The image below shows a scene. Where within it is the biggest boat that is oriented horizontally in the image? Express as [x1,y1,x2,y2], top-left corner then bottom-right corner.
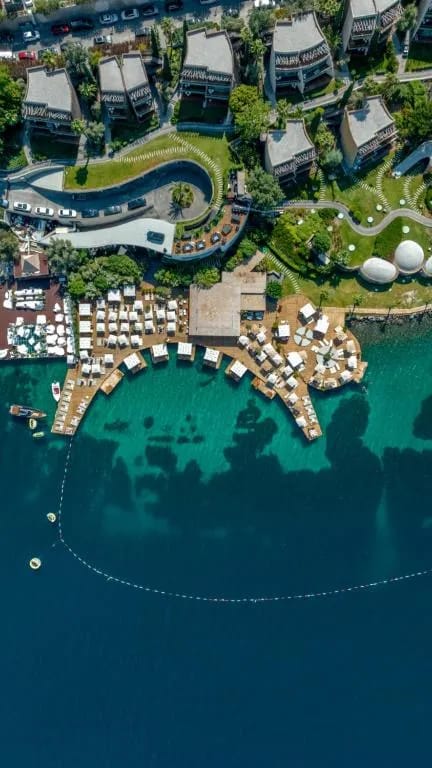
[9,406,49,418]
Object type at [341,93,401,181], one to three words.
building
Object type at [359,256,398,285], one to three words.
tent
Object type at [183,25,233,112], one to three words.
building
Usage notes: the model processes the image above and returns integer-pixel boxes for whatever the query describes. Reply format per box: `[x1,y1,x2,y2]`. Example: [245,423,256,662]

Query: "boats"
[29,418,37,429]
[52,380,62,401]
[46,513,56,521]
[30,558,40,568]
[9,406,49,418]
[33,431,45,437]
